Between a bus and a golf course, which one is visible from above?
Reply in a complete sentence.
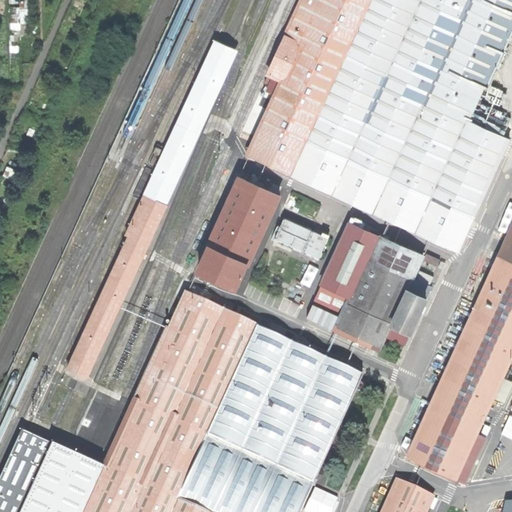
It is a bus that can be seen here.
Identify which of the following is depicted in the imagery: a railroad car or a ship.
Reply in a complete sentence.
This aerial view contains a railroad car.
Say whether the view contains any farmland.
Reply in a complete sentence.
No, there's no farmland in this view.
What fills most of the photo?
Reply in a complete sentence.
What you mostly see from above here is buildings.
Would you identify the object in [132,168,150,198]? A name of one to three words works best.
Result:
rail car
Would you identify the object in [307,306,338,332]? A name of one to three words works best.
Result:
shed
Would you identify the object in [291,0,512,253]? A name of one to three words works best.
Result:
building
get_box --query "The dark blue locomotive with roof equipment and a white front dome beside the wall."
[122,90,147,135]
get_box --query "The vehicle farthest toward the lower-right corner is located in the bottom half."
[487,440,508,472]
